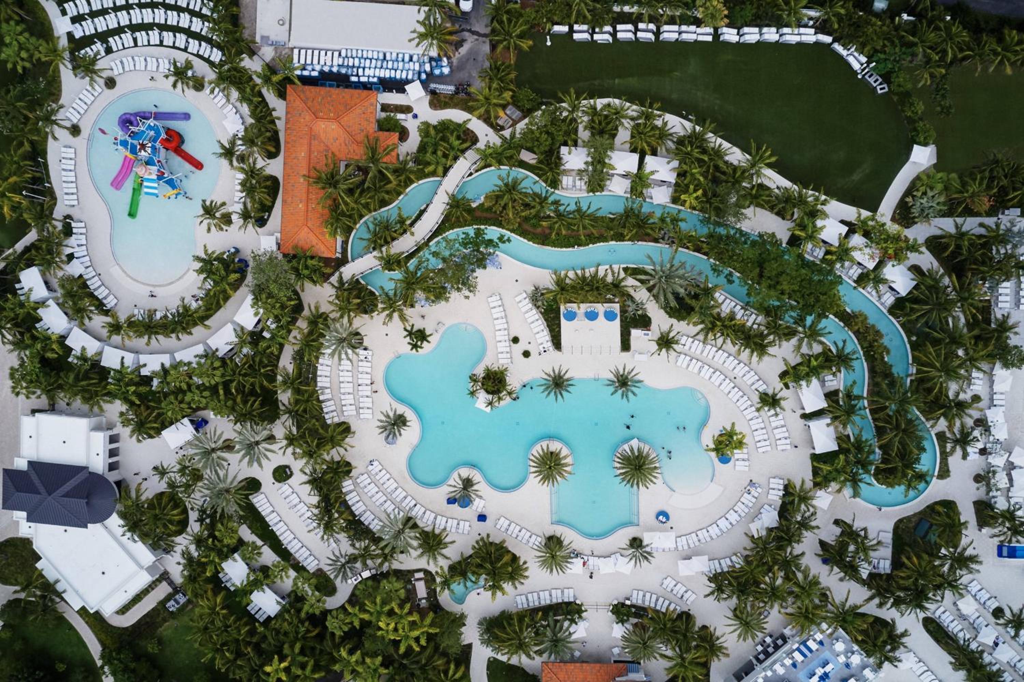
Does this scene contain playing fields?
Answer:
No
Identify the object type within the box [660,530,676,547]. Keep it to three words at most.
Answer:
umbrella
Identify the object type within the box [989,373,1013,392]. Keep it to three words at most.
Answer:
umbrella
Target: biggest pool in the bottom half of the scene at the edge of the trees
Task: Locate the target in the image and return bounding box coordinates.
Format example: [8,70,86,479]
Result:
[385,324,713,539]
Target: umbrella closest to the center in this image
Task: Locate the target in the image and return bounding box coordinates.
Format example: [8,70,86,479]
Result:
[473,391,494,413]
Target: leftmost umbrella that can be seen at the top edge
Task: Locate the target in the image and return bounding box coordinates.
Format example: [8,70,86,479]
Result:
[55,16,75,34]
